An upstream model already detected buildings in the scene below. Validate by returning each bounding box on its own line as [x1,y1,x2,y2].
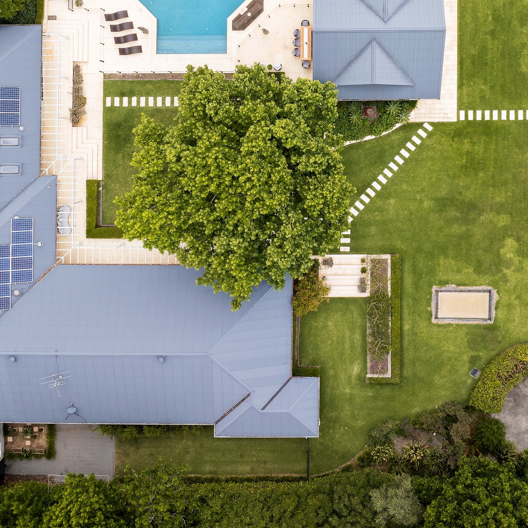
[0,23,322,480]
[312,0,448,101]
